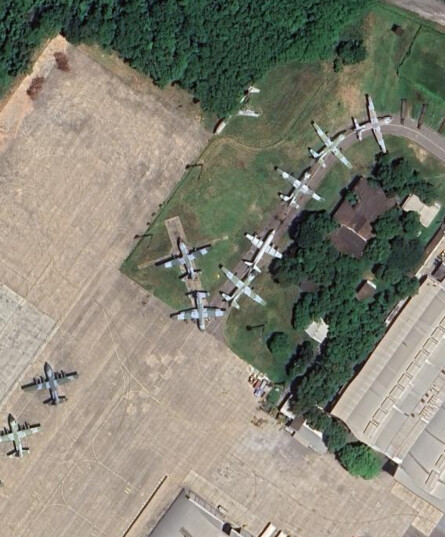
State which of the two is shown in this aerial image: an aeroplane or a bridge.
aeroplane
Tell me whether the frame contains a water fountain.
No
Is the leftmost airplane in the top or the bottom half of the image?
bottom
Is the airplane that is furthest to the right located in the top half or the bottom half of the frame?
top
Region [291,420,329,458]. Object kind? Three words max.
shed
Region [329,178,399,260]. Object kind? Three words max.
house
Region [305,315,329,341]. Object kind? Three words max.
building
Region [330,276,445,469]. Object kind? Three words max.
hangar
